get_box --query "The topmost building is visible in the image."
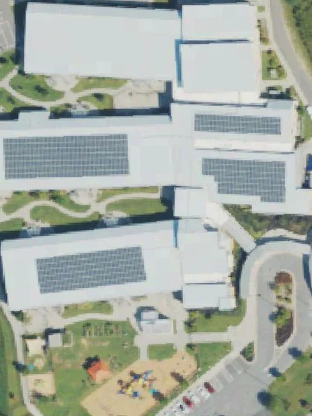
[24,2,264,102]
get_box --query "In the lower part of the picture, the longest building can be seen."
[1,218,236,310]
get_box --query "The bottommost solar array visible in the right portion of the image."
[202,157,284,202]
